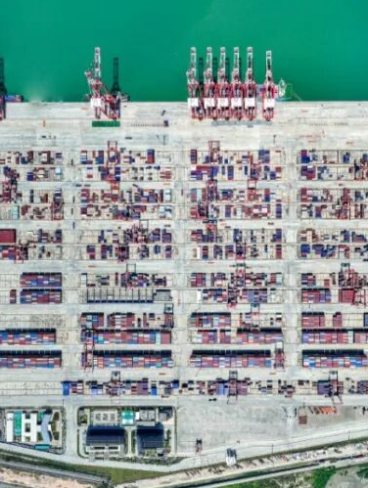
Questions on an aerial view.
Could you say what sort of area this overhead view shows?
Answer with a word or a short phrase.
port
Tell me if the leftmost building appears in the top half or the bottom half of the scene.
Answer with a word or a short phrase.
bottom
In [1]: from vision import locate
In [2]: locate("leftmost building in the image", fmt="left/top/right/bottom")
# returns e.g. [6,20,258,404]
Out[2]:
[21,410,41,443]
